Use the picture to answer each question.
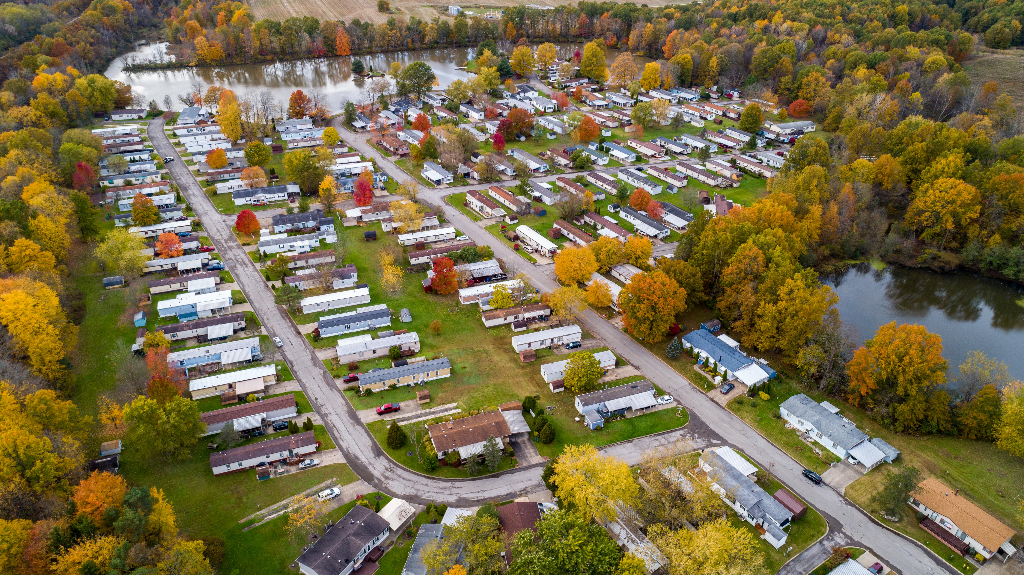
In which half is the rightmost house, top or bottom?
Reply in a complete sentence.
You can find the rightmost house in the bottom half.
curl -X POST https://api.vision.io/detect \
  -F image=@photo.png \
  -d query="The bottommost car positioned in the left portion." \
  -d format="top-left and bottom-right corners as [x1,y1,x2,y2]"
[316,487,340,502]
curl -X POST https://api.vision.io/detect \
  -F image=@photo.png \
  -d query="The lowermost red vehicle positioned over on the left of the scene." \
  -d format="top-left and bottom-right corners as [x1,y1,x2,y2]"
[376,404,401,416]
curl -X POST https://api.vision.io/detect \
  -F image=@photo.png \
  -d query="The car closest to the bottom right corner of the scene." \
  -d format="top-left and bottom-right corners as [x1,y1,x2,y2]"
[868,561,891,574]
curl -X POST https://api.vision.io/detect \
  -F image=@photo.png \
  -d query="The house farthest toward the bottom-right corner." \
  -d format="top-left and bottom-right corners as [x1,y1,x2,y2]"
[910,477,1018,569]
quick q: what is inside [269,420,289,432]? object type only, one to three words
vehicle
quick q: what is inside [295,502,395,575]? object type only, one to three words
house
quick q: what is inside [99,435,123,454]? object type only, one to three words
shed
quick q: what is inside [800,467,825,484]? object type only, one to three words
car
